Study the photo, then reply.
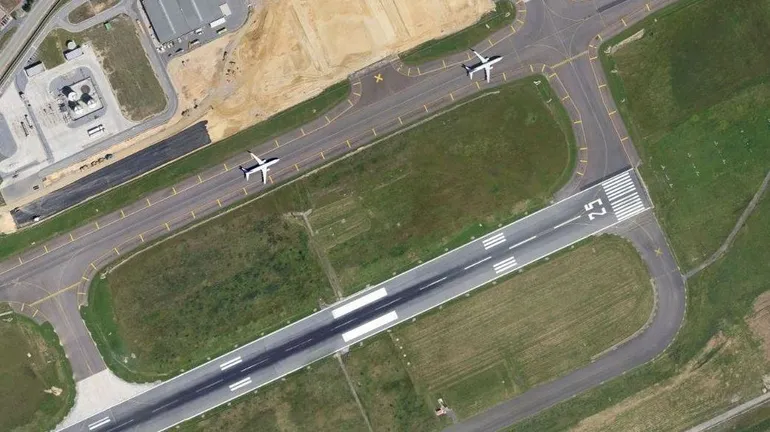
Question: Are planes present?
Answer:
Yes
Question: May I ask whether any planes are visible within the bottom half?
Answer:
No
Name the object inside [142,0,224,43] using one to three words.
building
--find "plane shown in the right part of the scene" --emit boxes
[466,50,504,82]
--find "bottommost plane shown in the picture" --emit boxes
[241,153,279,184]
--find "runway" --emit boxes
[53,166,653,432]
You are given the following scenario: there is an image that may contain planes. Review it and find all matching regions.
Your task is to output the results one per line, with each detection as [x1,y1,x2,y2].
[241,153,279,184]
[466,50,504,82]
